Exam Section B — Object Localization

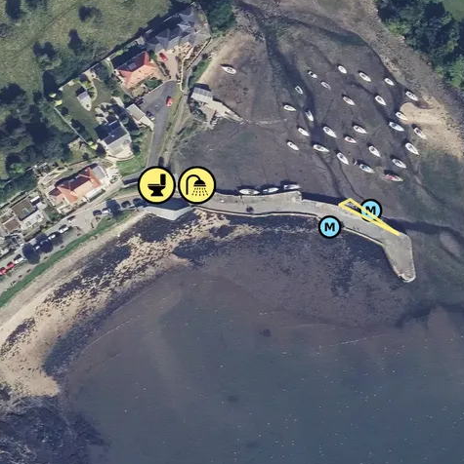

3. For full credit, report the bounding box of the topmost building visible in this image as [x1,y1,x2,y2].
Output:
[157,6,216,64]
